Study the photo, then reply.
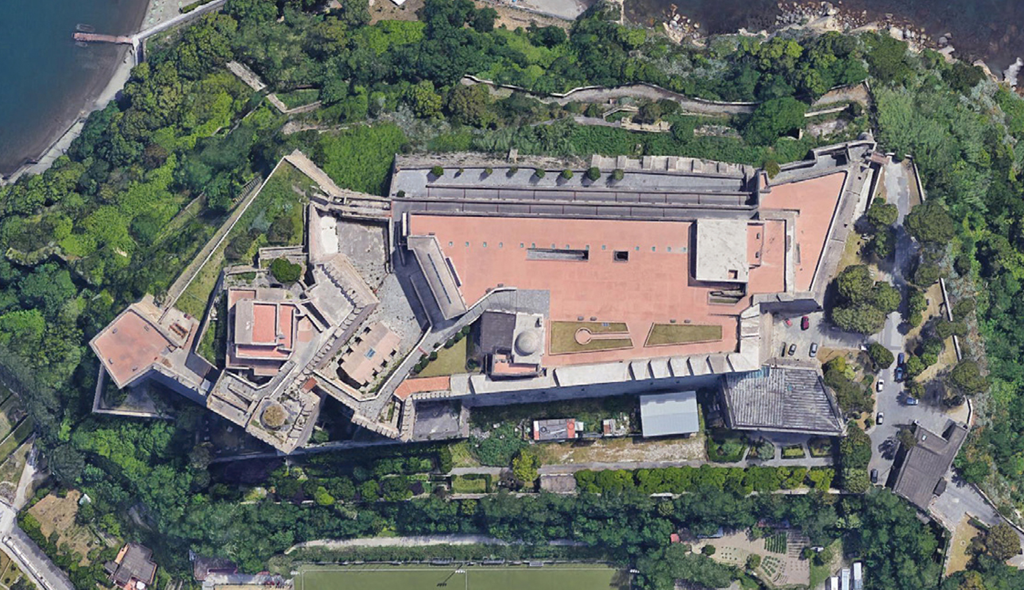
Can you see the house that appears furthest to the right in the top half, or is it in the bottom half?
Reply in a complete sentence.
It is in the bottom half that the house that appears furthest to the right appears.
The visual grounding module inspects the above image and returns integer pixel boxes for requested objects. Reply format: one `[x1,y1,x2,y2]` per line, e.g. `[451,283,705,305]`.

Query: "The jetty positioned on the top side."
[73,32,134,45]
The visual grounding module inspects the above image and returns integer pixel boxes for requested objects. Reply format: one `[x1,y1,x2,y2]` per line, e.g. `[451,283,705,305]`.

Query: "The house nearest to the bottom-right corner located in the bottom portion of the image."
[892,420,968,512]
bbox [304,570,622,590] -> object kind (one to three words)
sports field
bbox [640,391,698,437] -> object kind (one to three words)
shed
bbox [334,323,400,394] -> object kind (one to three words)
building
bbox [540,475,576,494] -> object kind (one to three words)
building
